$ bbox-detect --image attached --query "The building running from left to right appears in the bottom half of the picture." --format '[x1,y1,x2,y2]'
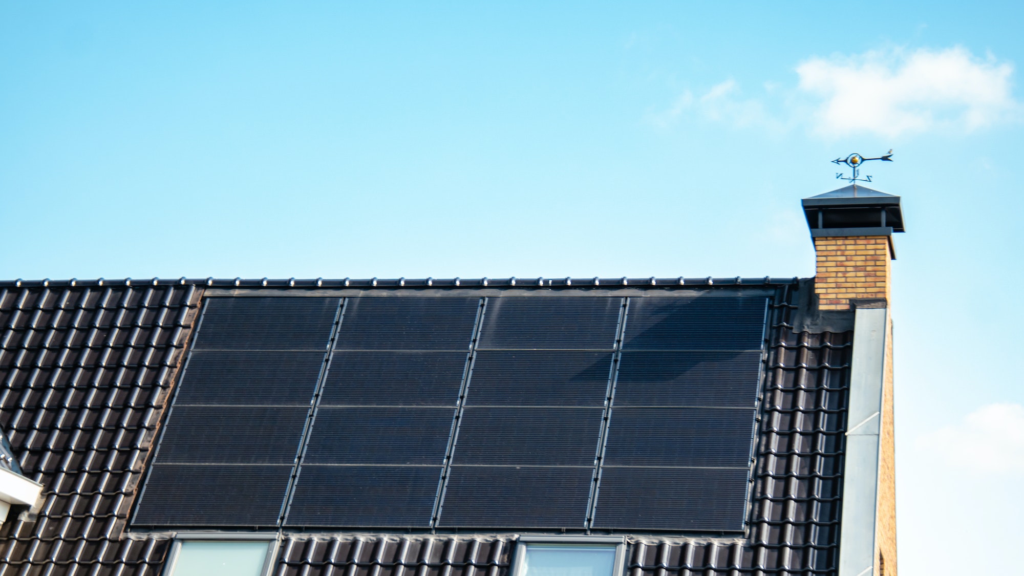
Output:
[0,183,903,576]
